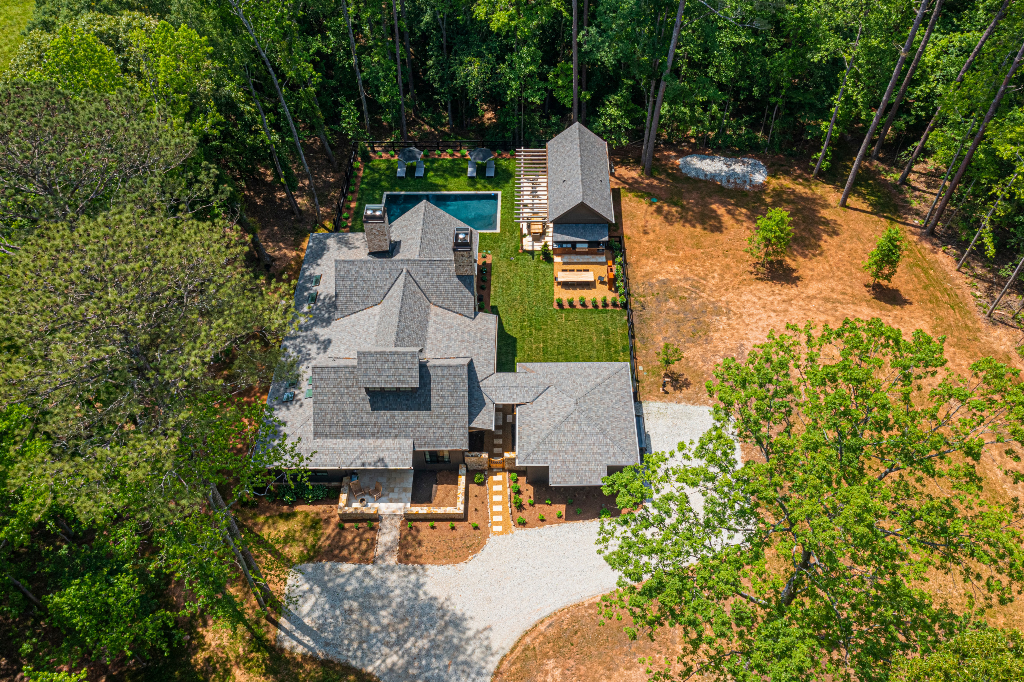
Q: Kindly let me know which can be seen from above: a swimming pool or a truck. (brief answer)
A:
swimming pool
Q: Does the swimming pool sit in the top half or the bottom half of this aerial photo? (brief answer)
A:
top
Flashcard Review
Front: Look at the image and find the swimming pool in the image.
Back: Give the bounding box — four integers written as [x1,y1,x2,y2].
[382,191,501,232]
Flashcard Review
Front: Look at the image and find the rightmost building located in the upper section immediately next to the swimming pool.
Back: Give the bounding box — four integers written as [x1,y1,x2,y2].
[545,121,616,258]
